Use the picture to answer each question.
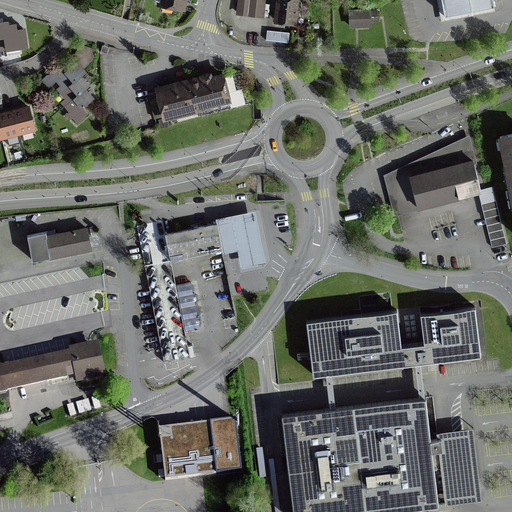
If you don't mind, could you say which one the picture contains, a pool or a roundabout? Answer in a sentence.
The image shows a roundabout.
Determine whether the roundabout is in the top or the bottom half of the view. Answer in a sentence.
Seen from above, the roundabout lies in the top half of the view.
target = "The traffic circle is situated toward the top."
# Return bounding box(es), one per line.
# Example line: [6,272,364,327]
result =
[262,98,342,179]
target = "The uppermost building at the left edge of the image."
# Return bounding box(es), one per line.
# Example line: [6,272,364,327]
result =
[0,18,32,61]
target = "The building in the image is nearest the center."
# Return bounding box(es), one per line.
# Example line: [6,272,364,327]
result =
[216,211,268,271]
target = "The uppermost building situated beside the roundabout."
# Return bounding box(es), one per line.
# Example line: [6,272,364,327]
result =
[154,71,246,128]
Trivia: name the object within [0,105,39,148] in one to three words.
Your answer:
house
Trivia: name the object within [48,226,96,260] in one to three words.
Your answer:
house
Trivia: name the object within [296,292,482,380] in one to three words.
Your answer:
building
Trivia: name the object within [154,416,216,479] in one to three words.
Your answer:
building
